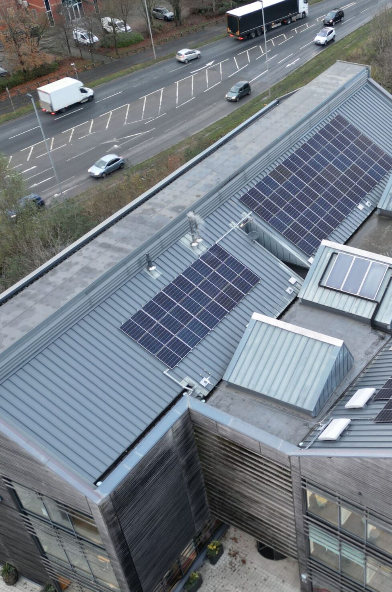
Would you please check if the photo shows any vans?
Yes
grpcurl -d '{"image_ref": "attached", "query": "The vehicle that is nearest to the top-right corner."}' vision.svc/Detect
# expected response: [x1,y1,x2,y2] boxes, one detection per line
[323,9,345,26]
